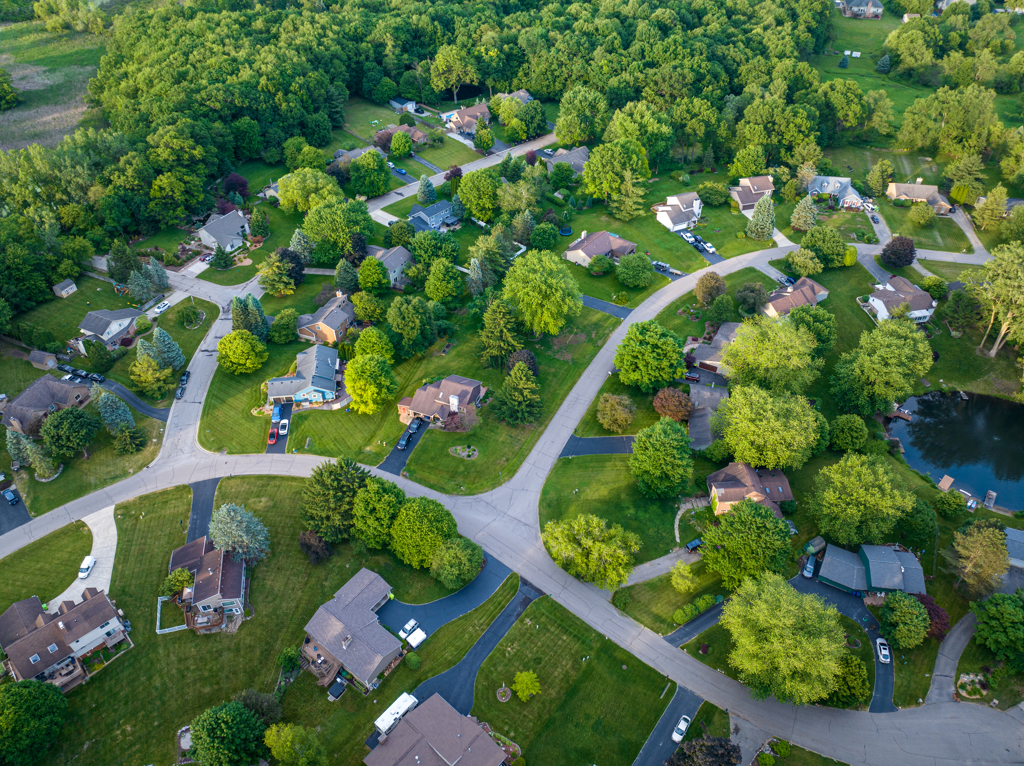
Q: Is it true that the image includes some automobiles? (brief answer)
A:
Yes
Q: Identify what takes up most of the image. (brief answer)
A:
trees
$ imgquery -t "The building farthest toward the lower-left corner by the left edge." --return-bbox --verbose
[0,581,131,694]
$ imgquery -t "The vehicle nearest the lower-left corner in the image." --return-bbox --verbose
[77,554,96,579]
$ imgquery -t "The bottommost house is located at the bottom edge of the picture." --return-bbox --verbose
[367,693,510,766]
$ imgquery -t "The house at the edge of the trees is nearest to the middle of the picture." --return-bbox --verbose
[398,374,481,429]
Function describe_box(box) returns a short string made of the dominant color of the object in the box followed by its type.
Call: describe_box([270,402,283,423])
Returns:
blue vehicle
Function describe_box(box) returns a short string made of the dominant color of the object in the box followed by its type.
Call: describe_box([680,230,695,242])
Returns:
white vehicle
